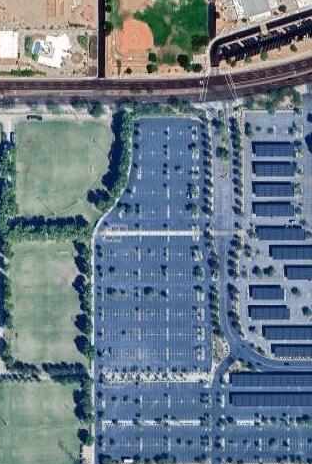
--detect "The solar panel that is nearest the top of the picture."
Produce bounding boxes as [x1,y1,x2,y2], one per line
[254,143,294,156]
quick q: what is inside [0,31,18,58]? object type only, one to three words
barn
